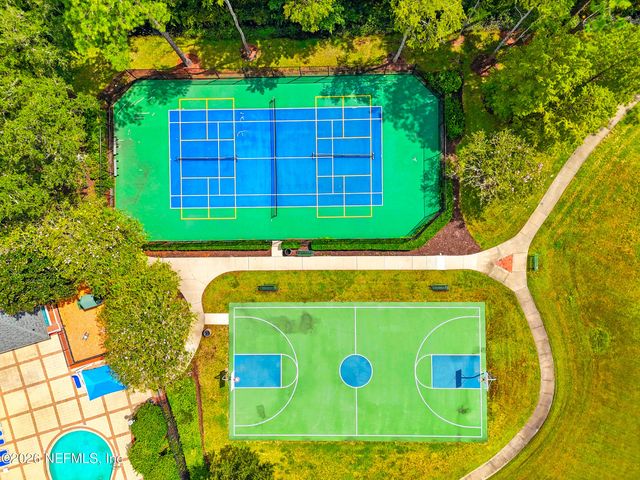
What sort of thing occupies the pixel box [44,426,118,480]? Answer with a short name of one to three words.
swimming pool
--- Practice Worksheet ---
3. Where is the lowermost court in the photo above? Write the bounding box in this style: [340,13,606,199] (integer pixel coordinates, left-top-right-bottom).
[229,302,487,441]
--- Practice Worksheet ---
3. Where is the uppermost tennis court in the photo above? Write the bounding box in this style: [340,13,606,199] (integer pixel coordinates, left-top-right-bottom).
[114,76,439,241]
